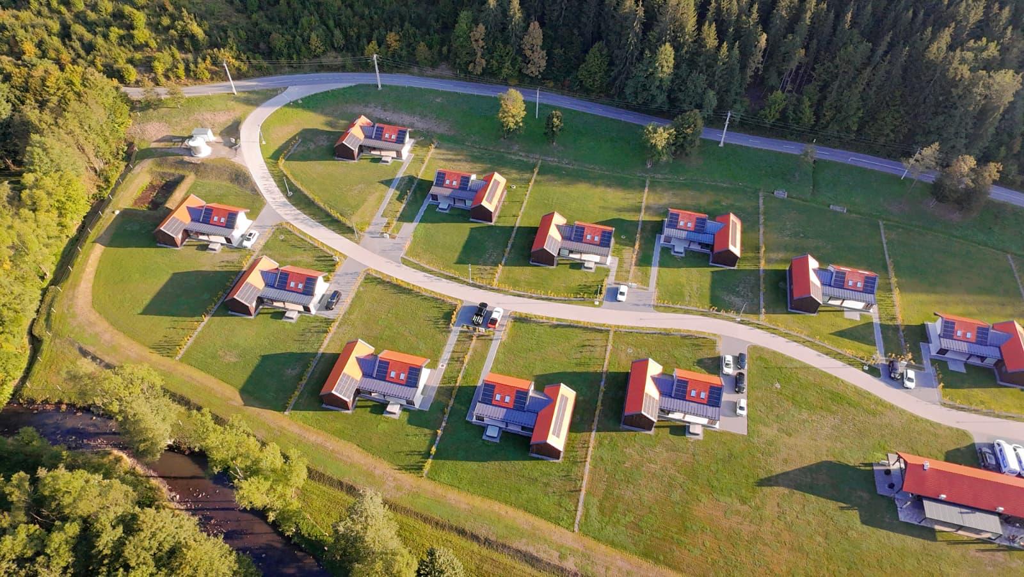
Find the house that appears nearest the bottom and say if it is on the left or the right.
right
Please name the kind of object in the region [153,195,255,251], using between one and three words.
house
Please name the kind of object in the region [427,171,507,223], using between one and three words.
house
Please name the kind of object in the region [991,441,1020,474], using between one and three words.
van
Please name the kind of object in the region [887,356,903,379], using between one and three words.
car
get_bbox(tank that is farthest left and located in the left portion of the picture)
[187,134,214,159]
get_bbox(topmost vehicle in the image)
[244,230,258,246]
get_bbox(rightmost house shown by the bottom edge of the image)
[873,452,1024,550]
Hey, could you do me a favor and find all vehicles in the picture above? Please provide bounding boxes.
[735,396,747,418]
[734,372,747,394]
[887,356,903,379]
[991,441,1020,474]
[722,354,734,375]
[325,291,342,309]
[473,303,487,324]
[244,230,258,246]
[489,310,502,327]
[736,352,748,371]
[977,446,996,470]
[618,284,628,301]
[903,368,916,389]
